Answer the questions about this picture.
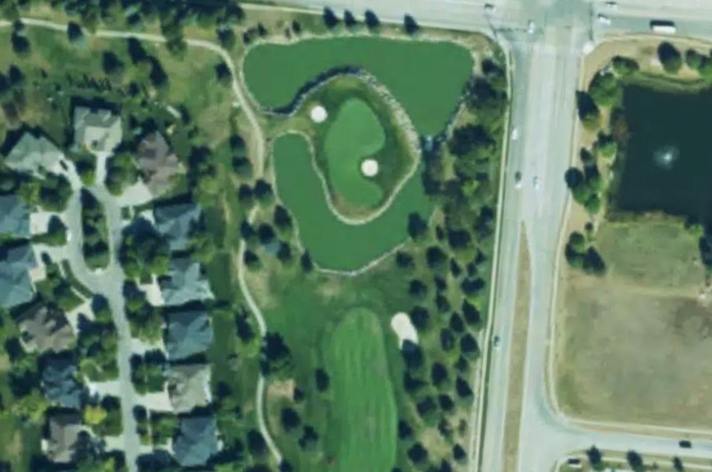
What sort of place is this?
golf course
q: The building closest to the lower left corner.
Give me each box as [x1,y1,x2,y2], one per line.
[48,416,86,463]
